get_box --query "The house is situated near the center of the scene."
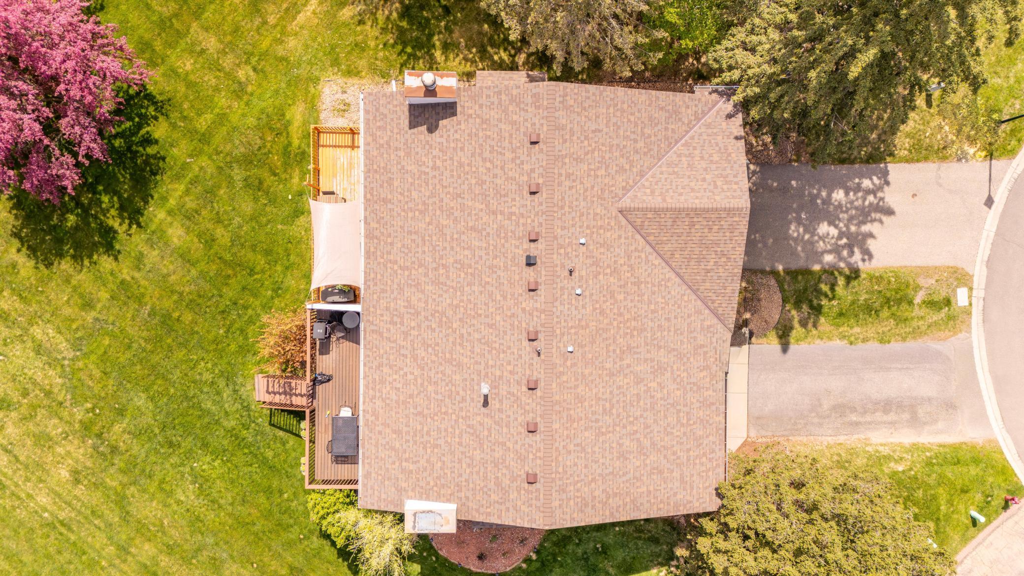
[358,70,751,534]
